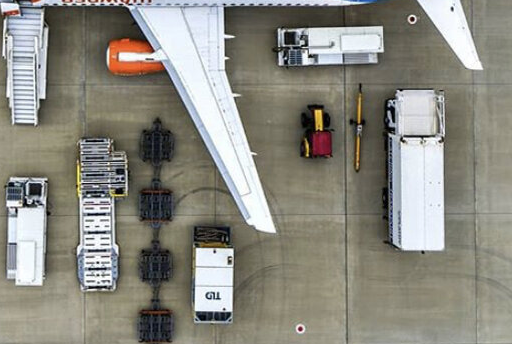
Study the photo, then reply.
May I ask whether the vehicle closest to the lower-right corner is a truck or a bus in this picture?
truck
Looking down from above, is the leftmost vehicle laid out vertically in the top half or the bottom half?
bottom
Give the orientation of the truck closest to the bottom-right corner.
vertically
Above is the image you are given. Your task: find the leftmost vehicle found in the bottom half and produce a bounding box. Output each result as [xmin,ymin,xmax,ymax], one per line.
[11,176,51,288]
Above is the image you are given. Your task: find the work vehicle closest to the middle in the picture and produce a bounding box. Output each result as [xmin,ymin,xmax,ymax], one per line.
[301,106,335,158]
